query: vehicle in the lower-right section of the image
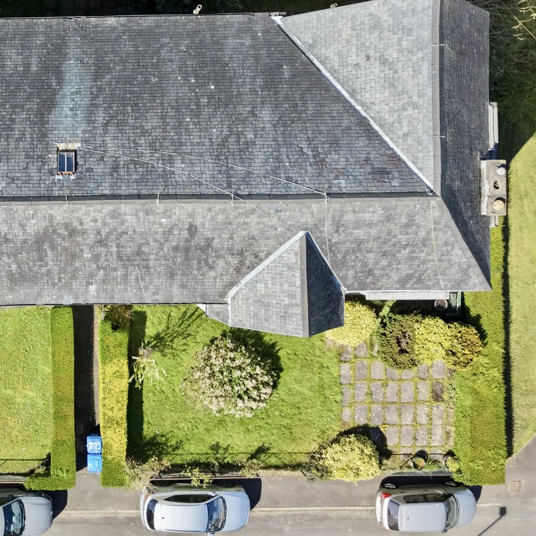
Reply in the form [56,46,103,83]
[373,480,473,536]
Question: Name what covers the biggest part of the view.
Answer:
buildings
